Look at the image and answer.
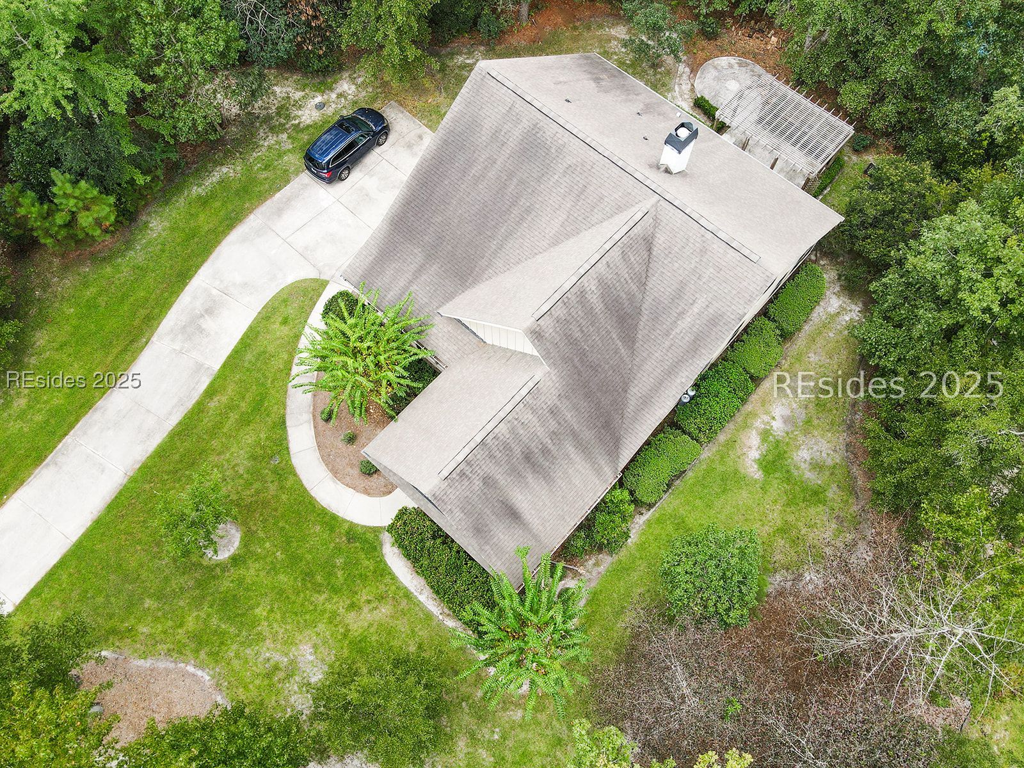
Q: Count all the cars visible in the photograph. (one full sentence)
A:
The photo contains exactly 1 car.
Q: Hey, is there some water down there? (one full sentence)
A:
No, the scene doesn't show any water.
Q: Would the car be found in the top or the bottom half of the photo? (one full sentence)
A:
It is in the top half that the car appears.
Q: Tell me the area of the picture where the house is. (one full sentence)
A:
Look in the center portion of the view to spot the house.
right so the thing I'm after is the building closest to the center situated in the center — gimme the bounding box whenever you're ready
[339,51,844,594]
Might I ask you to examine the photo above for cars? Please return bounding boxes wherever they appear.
[297,103,389,187]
